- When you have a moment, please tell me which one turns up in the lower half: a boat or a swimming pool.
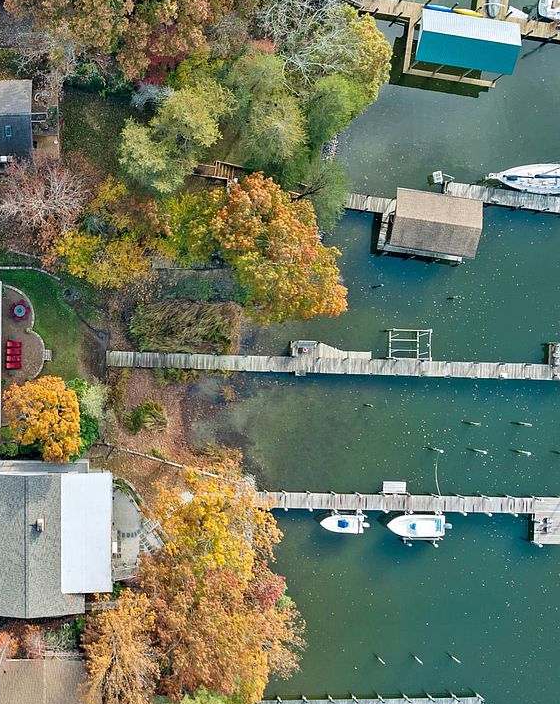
boat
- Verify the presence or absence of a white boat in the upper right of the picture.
Yes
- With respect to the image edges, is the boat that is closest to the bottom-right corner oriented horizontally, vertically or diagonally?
horizontally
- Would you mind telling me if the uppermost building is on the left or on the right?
right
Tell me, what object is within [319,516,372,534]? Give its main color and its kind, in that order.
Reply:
white boat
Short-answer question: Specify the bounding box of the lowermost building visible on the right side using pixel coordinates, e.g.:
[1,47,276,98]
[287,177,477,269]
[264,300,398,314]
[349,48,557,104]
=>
[383,188,483,259]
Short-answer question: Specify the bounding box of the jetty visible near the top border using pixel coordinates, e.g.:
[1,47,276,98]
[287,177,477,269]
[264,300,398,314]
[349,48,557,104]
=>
[358,0,560,90]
